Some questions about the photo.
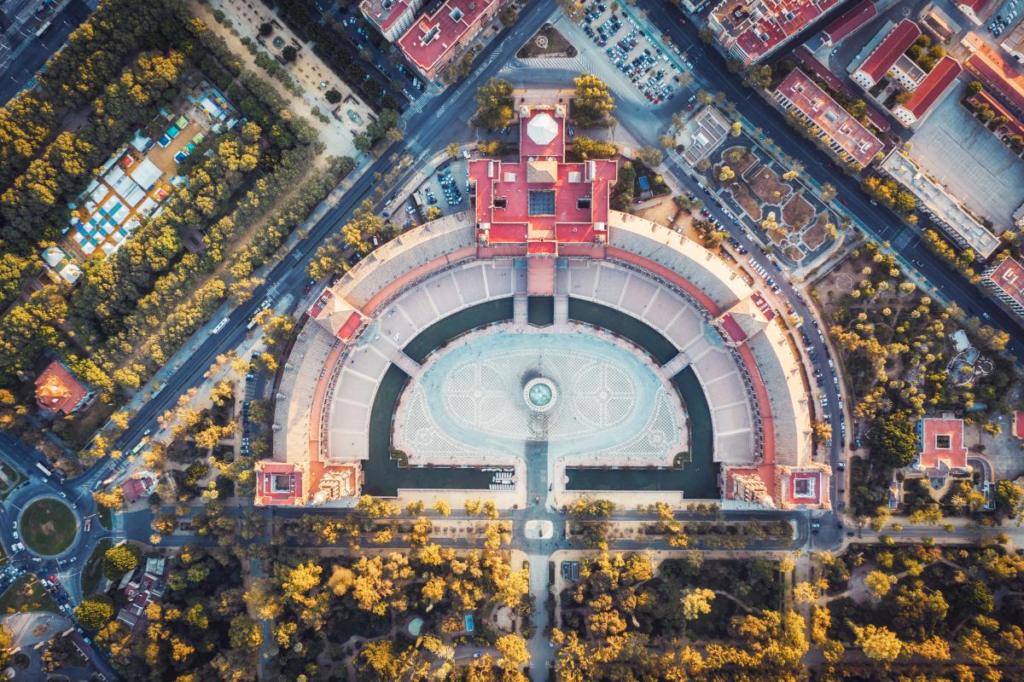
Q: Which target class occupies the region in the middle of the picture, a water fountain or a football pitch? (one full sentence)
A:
Visible in the middle of the picture is a water fountain.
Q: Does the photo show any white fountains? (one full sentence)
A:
Yes, this view includes a white fountain.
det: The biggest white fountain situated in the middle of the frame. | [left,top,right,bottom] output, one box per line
[522,377,556,411]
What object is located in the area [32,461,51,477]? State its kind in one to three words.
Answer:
vehicle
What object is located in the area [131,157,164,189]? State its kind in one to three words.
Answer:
tent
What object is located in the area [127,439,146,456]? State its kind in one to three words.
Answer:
vehicle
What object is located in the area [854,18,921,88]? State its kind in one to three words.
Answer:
building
